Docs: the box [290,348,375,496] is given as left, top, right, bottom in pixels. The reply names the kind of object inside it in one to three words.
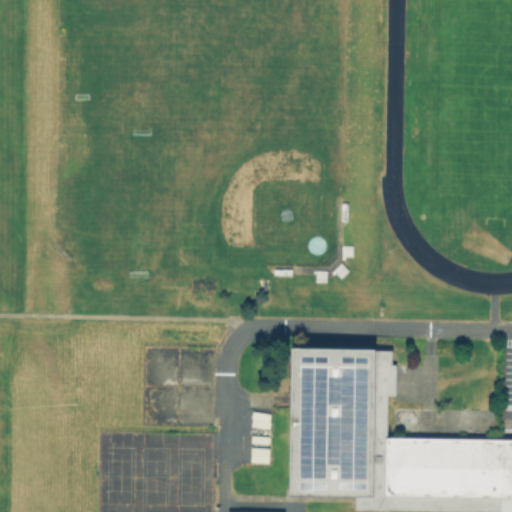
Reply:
building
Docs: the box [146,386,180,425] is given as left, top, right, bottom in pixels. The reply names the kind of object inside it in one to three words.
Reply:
sports court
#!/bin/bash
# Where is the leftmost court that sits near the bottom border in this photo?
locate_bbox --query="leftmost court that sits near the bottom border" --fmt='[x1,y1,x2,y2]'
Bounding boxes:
[101,433,140,512]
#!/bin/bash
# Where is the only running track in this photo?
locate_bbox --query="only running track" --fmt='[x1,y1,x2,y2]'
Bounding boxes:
[383,0,512,294]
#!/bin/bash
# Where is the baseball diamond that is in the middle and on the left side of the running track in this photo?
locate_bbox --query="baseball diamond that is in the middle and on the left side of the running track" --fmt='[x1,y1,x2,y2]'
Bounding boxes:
[222,150,330,262]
